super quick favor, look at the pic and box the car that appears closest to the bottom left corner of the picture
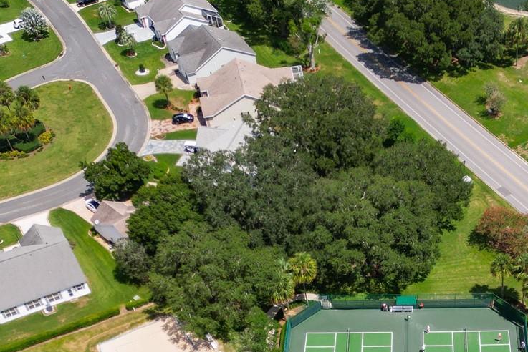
[82,196,101,210]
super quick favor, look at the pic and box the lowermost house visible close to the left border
[0,225,92,325]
